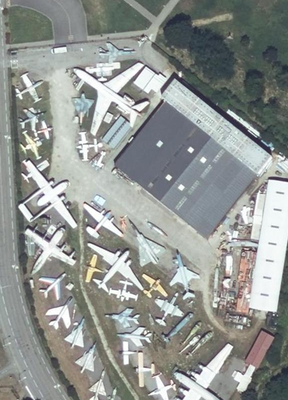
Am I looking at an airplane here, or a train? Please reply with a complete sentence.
Looking from above, you can make out an airplane.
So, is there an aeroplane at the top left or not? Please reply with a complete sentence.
Yes, looking at the top left, one can make out an aeroplane.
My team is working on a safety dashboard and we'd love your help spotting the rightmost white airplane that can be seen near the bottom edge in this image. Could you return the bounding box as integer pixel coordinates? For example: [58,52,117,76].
[174,344,234,400]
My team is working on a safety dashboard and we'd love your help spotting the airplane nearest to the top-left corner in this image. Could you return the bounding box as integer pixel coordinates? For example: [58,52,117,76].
[15,72,43,102]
